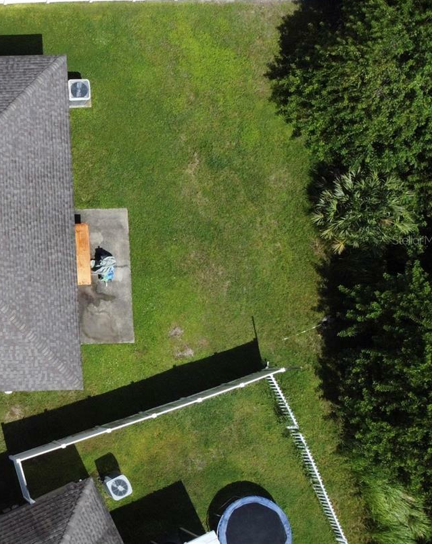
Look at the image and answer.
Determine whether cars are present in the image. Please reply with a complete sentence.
No, the photo shows no car.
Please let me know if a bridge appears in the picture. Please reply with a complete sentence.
No, there isn't any bridge down there.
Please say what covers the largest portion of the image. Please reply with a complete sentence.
The bulk of the photo consists of grass.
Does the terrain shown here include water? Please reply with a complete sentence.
No, the scene doesn't show any water.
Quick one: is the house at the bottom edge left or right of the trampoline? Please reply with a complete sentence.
The house at the bottom edge is to the left of the trampoline.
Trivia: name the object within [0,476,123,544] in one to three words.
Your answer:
house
